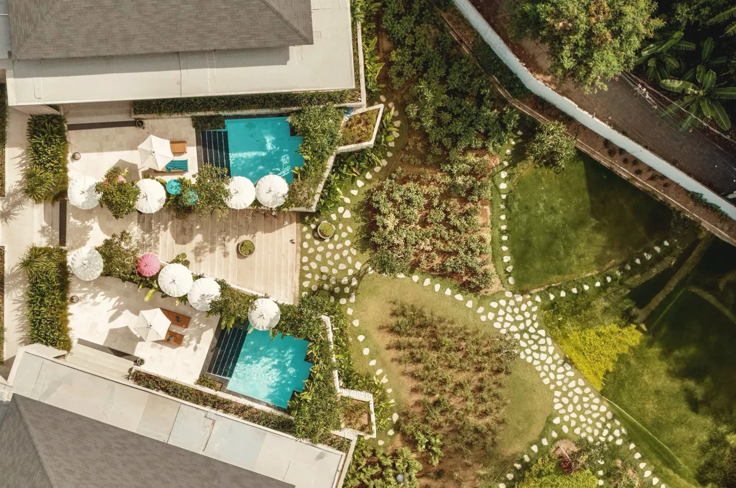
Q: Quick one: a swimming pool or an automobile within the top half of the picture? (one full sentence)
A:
You can see a swimming pool within the top half of the picture.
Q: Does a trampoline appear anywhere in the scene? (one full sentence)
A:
No, I can't see a single trampoline in this photo.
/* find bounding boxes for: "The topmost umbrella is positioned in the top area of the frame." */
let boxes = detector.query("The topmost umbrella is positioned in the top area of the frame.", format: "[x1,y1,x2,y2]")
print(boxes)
[138,135,173,170]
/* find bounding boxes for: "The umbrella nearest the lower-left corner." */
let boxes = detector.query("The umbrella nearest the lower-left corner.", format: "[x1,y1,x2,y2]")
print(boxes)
[134,308,171,342]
